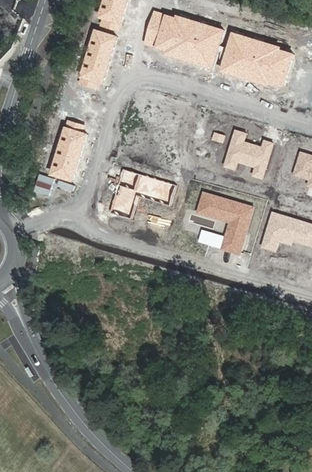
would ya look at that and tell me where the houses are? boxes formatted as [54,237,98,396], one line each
[196,191,254,254]
[294,152,312,185]
[110,168,177,218]
[144,10,224,72]
[220,32,295,87]
[262,212,312,255]
[78,28,117,90]
[224,129,274,178]
[48,120,87,182]
[97,0,129,31]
